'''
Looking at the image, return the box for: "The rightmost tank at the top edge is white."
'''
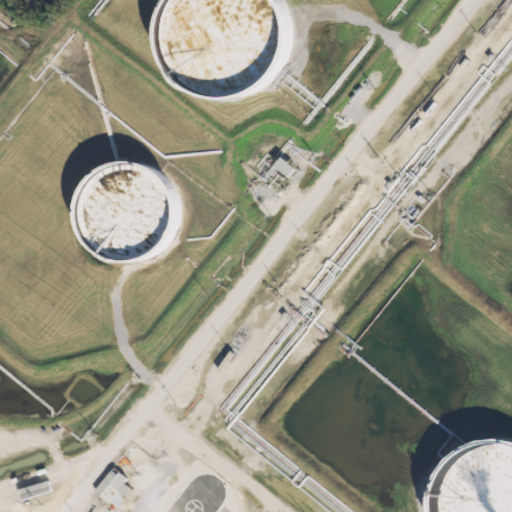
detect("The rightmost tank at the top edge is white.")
[151,0,292,100]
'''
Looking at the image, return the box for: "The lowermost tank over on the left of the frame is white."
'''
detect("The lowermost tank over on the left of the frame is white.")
[72,160,182,266]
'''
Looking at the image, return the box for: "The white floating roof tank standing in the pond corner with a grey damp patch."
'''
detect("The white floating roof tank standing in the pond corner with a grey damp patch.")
[422,437,512,512]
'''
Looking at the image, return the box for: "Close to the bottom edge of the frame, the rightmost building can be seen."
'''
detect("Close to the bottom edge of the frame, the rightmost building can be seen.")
[96,470,132,498]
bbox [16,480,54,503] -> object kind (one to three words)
building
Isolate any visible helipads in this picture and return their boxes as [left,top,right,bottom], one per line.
[168,474,224,512]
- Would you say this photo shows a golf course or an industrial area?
industrial area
